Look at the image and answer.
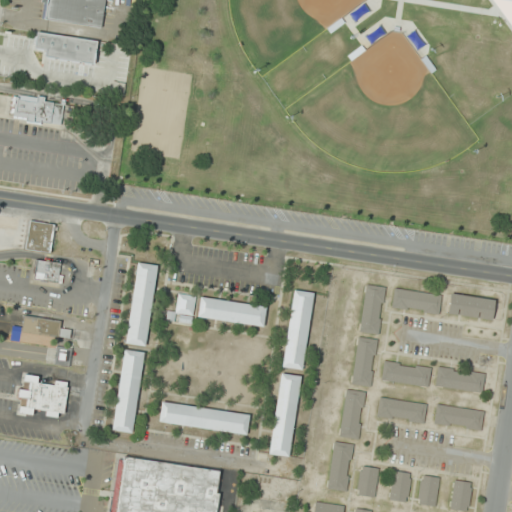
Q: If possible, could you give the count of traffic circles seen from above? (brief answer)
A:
zero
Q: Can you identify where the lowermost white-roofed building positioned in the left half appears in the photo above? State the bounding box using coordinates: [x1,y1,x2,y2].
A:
[111,459,222,512]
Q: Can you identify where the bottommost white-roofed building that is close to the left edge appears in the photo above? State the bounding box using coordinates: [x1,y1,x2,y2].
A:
[18,374,69,418]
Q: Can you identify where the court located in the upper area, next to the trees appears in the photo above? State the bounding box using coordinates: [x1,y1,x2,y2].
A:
[130,66,193,160]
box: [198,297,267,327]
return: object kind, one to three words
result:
building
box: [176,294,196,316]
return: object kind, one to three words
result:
building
